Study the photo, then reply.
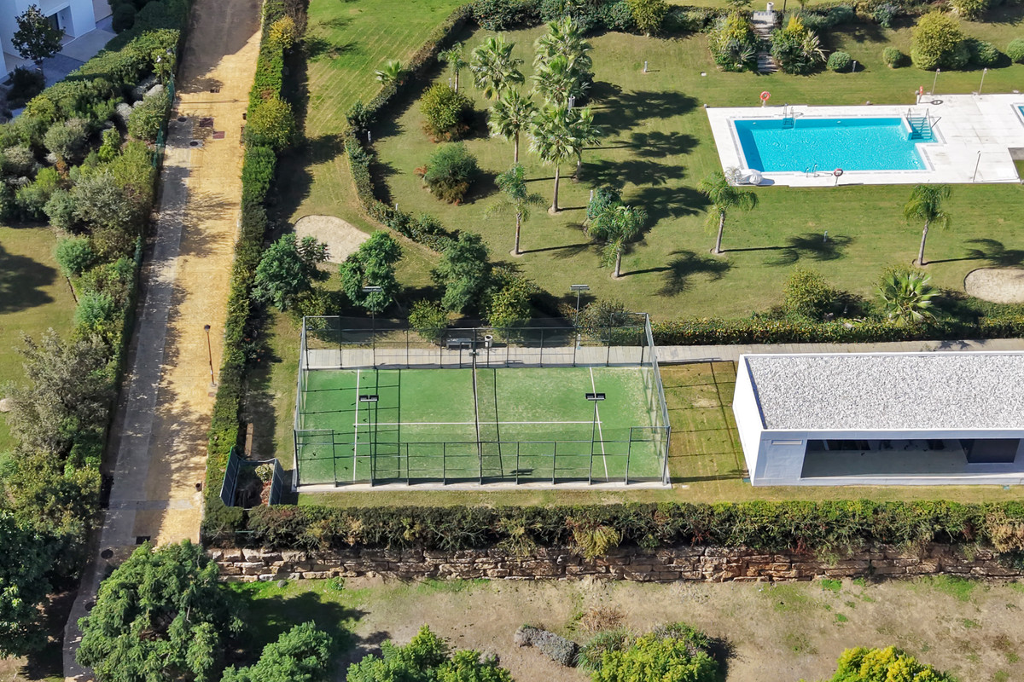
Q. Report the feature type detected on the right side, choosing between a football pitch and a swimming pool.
swimming pool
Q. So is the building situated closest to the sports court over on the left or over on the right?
right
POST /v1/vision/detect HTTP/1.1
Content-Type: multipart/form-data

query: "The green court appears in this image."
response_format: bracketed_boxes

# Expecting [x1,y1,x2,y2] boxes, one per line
[291,313,671,493]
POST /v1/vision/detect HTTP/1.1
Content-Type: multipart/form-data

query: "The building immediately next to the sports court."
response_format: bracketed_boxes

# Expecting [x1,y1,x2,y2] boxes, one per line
[732,351,1024,486]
